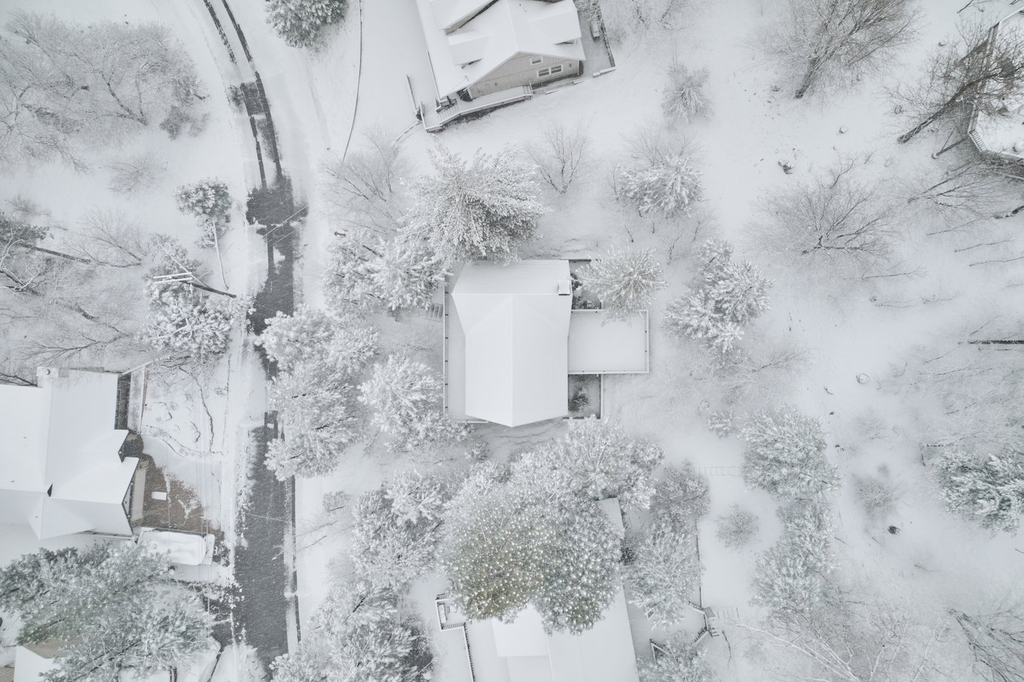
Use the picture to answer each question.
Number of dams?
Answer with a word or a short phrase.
zero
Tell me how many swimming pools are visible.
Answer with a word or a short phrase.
none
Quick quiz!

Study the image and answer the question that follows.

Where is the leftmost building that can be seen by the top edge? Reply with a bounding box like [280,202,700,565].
[417,0,585,110]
